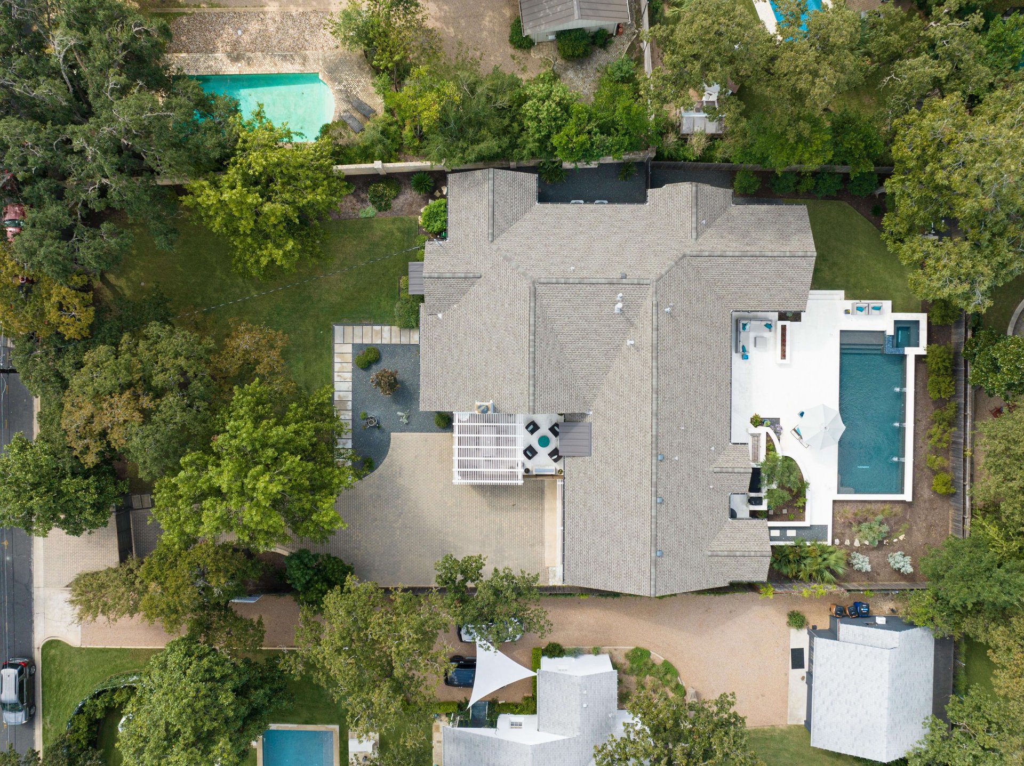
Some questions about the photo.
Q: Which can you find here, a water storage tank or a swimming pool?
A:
swimming pool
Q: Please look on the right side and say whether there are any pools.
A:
Yes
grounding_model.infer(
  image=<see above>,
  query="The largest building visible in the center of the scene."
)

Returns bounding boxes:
[408,169,816,596]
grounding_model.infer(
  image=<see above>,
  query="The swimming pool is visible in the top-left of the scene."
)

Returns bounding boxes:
[174,73,334,142]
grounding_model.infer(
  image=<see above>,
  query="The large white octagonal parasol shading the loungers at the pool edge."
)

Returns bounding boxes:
[791,399,847,455]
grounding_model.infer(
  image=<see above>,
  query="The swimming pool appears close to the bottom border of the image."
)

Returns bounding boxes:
[256,724,339,766]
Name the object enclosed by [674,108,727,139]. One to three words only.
greenhouse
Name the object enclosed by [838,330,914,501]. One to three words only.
swimming pool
